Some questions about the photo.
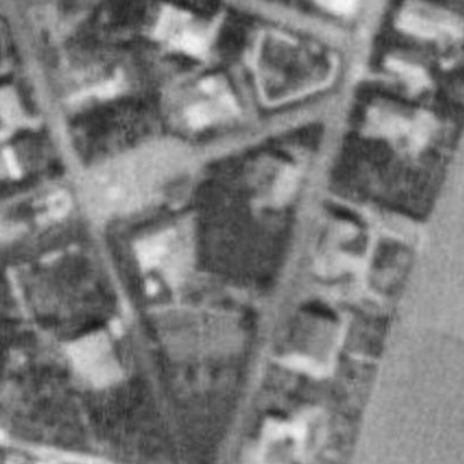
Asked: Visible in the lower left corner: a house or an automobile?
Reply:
house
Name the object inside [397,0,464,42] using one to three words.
house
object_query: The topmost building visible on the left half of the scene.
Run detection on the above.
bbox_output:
[153,5,212,61]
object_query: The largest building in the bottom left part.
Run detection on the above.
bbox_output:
[67,333,124,389]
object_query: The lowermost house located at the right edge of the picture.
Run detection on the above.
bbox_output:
[360,97,442,154]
